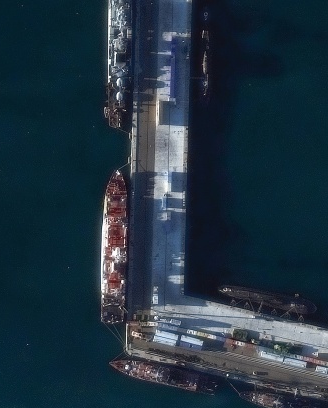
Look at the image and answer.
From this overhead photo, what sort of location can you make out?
port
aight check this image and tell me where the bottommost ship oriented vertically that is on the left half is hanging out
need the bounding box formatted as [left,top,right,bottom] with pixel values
[102,169,127,323]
